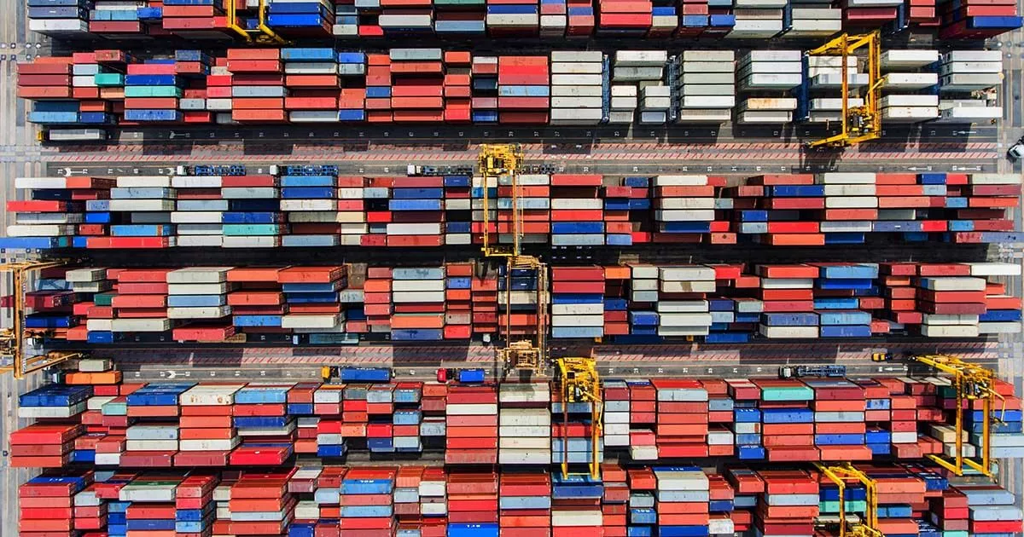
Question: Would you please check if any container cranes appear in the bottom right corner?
Yes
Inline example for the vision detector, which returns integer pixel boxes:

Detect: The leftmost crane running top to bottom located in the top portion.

[477,138,524,258]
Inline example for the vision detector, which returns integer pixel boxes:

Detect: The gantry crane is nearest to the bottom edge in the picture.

[809,459,882,537]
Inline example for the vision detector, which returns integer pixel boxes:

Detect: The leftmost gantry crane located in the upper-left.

[222,0,293,46]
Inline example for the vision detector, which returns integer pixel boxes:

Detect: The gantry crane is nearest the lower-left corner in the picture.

[0,262,75,376]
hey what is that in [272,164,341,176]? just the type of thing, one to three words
vehicle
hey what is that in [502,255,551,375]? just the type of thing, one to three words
container crane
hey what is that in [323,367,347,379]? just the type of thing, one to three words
vehicle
